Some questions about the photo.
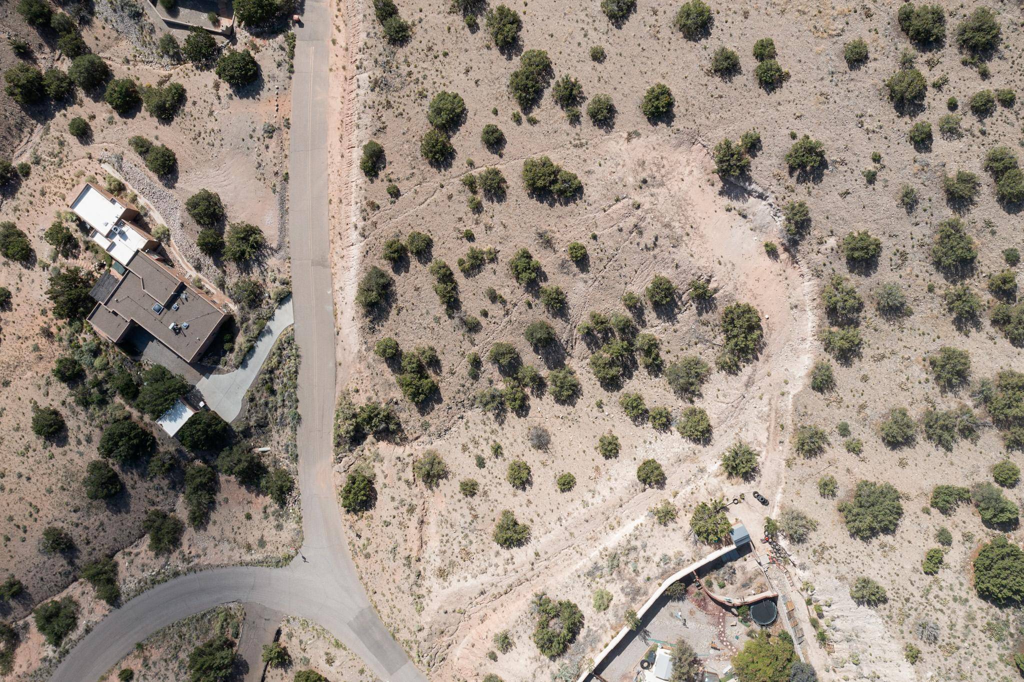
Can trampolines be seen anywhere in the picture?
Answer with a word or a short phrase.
Yes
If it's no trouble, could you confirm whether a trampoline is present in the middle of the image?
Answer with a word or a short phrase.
No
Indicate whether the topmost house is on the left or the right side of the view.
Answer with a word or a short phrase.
left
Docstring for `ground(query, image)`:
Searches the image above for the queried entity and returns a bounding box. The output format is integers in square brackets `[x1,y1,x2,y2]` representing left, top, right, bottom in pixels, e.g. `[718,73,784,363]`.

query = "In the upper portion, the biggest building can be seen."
[69,183,232,362]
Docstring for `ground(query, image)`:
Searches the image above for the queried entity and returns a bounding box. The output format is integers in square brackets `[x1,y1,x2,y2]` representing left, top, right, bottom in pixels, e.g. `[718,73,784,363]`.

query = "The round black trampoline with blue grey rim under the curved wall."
[750,599,777,626]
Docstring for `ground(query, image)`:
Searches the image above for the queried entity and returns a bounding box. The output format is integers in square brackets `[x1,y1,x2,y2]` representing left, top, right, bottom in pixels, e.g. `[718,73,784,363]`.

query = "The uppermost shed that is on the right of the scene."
[727,522,750,547]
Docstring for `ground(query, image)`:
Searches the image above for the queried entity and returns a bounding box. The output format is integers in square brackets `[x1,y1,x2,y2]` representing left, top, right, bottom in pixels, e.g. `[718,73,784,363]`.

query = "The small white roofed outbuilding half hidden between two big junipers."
[156,396,202,437]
